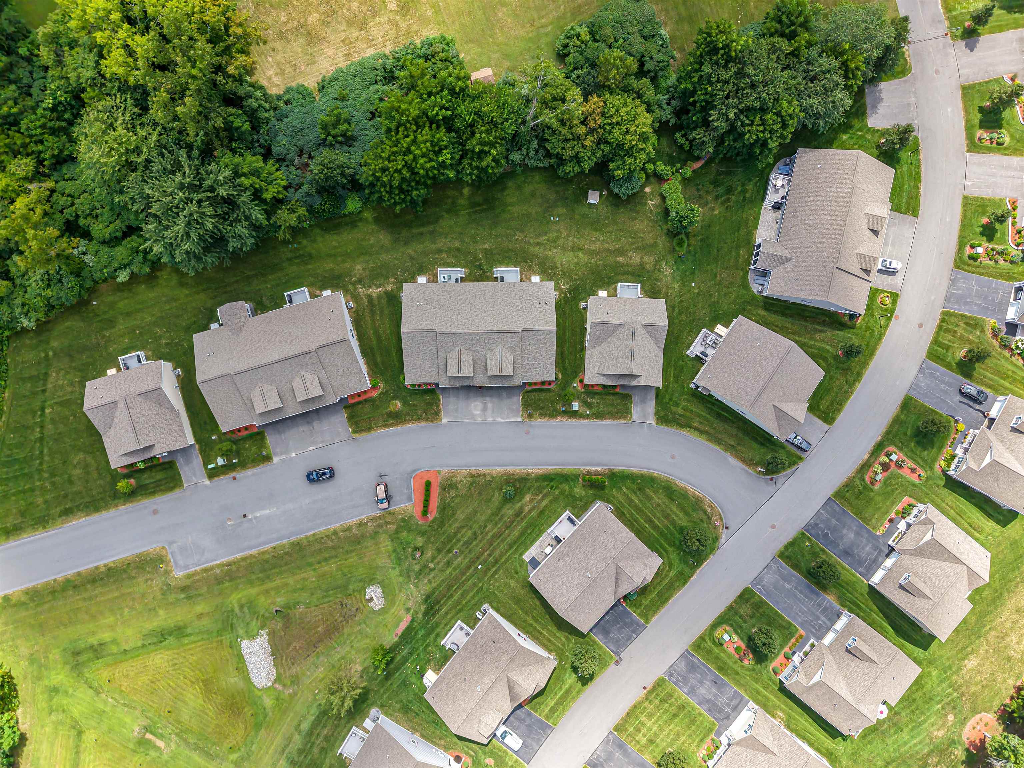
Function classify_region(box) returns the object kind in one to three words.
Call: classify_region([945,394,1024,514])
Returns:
house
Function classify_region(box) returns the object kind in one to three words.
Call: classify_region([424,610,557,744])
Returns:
house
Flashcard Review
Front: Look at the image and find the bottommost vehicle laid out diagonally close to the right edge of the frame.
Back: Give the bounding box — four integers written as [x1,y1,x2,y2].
[958,382,987,405]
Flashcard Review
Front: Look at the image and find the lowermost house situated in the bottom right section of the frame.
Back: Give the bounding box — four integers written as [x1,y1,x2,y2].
[704,702,840,768]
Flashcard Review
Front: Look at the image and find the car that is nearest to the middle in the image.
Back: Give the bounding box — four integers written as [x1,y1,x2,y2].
[376,481,390,510]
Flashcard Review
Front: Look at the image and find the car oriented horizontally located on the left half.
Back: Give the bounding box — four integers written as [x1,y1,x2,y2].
[307,467,336,482]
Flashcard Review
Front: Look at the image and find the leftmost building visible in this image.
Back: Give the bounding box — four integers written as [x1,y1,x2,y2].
[83,352,191,469]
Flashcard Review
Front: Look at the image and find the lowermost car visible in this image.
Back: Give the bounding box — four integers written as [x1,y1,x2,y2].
[496,724,524,751]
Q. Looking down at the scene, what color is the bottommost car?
white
